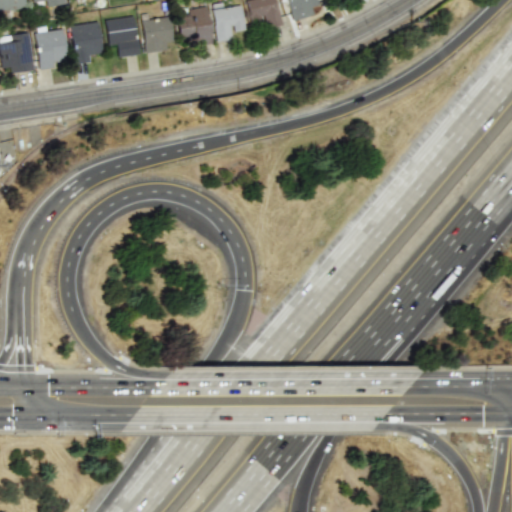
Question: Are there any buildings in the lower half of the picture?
No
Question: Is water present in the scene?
No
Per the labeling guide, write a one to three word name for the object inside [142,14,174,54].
house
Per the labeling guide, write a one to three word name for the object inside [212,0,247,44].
house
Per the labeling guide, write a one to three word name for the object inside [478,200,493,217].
vehicle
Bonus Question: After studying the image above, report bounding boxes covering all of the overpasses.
[118,366,426,435]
